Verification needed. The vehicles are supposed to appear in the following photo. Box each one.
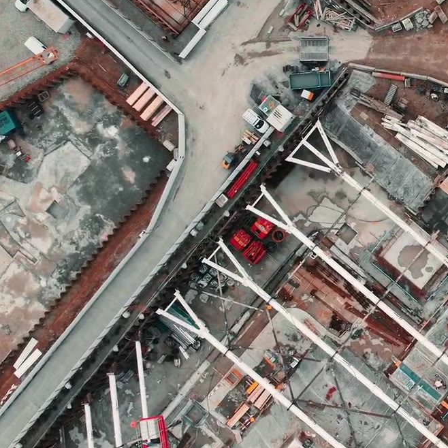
[218,142,252,169]
[24,34,59,56]
[16,0,31,12]
[239,104,275,138]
